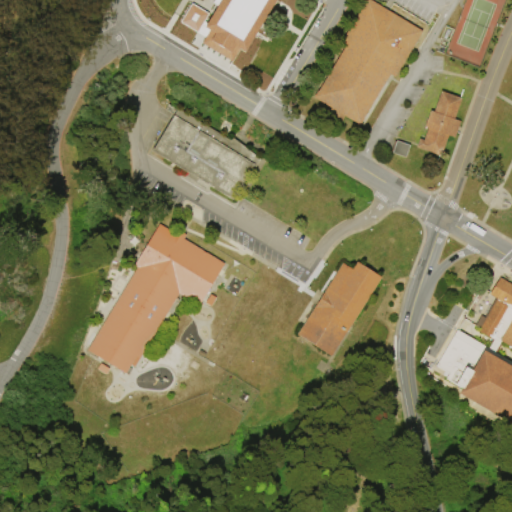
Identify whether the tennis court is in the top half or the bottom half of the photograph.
top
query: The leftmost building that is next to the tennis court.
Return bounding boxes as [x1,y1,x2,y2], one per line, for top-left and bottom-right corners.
[318,0,422,123]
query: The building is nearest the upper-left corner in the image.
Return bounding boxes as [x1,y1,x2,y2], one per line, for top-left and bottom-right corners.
[182,2,208,32]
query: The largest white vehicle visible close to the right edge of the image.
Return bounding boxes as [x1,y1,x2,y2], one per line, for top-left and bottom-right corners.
[468,222,487,236]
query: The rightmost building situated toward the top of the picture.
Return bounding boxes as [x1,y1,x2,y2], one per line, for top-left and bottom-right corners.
[418,91,462,154]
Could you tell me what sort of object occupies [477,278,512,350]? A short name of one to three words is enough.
building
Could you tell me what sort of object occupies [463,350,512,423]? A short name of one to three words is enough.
building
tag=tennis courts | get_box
[448,0,506,66]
